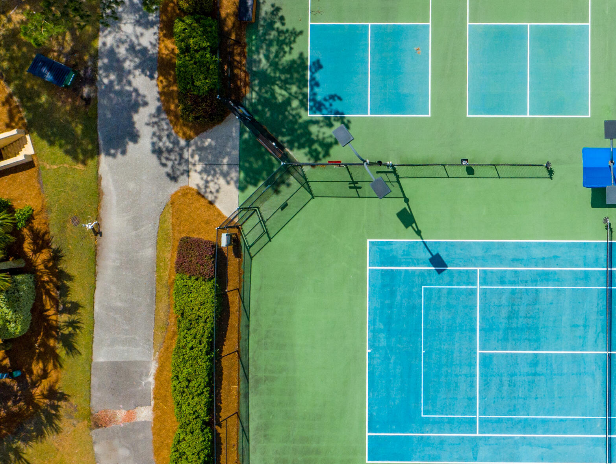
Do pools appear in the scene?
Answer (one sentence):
No, there appears to be no pool in this shot.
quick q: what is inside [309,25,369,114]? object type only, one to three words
sports court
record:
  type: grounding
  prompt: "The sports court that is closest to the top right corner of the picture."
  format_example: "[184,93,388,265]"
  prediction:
[529,25,588,115]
